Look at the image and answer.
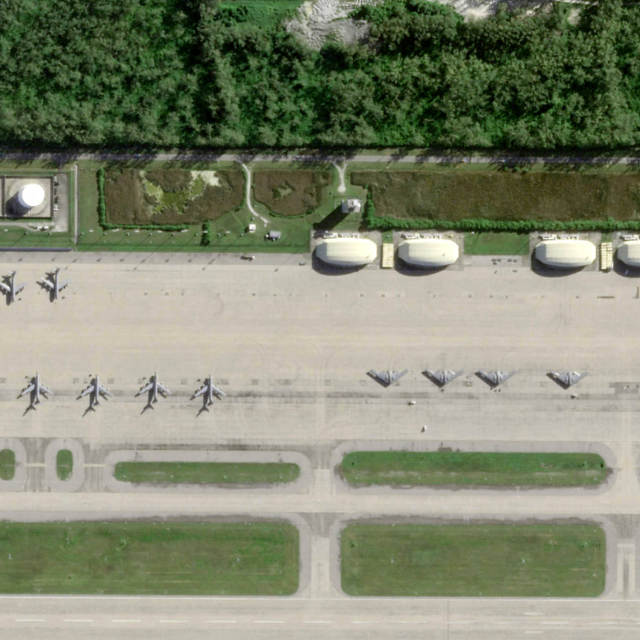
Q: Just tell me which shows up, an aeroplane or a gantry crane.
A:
aeroplane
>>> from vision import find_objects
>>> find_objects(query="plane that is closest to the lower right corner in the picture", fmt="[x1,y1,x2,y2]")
[552,370,587,386]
